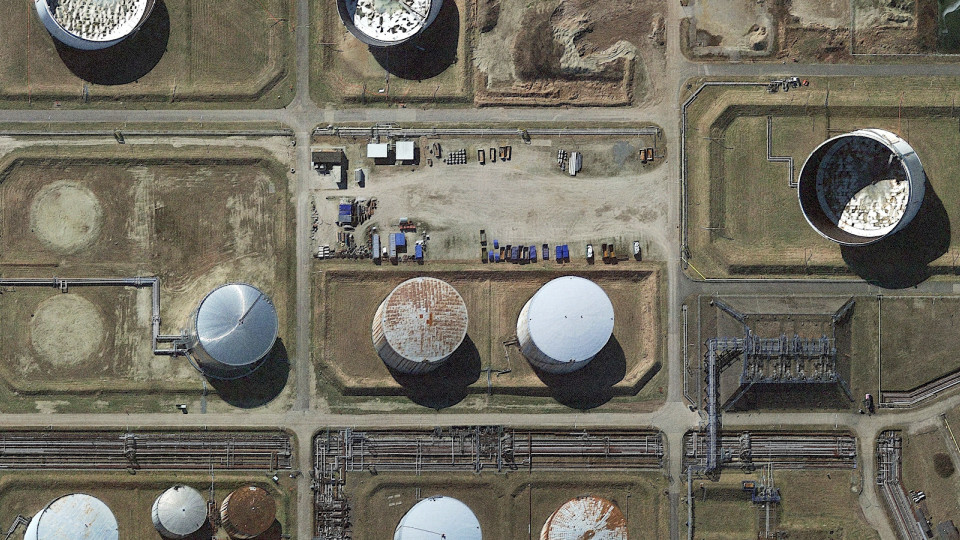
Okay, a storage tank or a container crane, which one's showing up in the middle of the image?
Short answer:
storage tank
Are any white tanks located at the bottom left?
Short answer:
Yes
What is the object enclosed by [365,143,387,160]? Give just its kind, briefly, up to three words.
shed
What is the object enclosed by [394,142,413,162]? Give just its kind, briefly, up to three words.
shed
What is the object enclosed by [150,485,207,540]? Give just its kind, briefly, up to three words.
storage tank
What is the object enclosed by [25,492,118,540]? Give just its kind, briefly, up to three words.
storage tank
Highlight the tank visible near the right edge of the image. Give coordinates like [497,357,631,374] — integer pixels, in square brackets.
[796,127,923,255]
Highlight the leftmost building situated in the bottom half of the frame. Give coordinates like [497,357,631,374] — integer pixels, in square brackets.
[742,315,834,383]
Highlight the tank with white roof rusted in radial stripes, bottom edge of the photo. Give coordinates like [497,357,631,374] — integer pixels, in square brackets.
[538,494,630,540]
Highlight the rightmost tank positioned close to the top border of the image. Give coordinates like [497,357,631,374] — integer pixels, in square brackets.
[337,0,446,48]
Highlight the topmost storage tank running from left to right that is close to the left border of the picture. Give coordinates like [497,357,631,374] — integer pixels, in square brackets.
[35,0,154,52]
